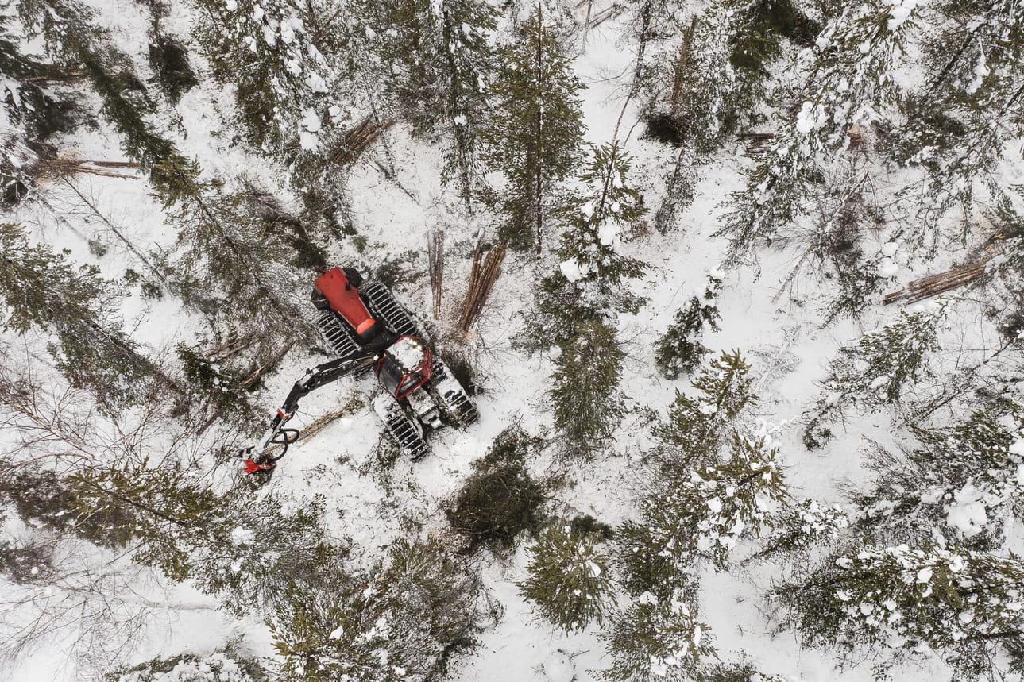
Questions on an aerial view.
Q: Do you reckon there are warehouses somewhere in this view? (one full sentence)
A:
No, there isn't any warehouse down there.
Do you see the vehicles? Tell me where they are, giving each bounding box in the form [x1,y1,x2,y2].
[240,263,488,480]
